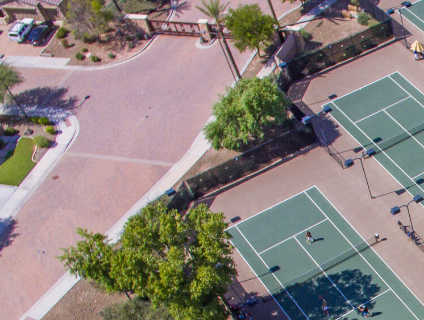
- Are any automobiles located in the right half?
No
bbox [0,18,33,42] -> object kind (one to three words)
car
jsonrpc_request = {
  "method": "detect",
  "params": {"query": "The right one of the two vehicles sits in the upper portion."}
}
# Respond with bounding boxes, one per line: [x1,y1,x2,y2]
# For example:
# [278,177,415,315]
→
[22,24,52,47]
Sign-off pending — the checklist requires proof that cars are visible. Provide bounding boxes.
[22,24,52,47]
[0,18,33,42]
